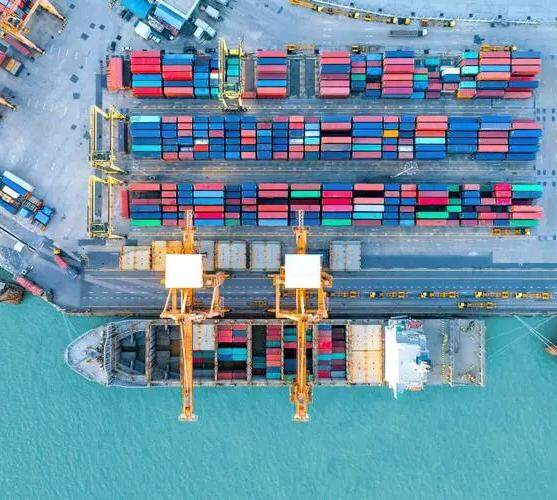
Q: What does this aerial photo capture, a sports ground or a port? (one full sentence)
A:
The picture captures a port.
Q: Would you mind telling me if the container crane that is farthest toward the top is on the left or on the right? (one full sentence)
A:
You can find the container crane that is farthest toward the top on the left side of the picture.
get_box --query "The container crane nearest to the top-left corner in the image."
[2,0,70,54]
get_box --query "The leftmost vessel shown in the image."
[0,278,29,306]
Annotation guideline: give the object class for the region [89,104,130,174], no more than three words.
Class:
container crane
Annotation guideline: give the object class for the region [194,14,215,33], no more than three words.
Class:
vehicle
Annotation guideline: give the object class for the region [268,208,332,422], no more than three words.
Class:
container crane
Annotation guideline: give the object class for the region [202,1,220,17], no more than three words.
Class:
vehicle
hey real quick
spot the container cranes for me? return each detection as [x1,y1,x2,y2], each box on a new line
[155,208,230,422]
[2,0,70,54]
[89,104,130,174]
[88,176,129,240]
[268,208,332,422]
[219,36,249,111]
